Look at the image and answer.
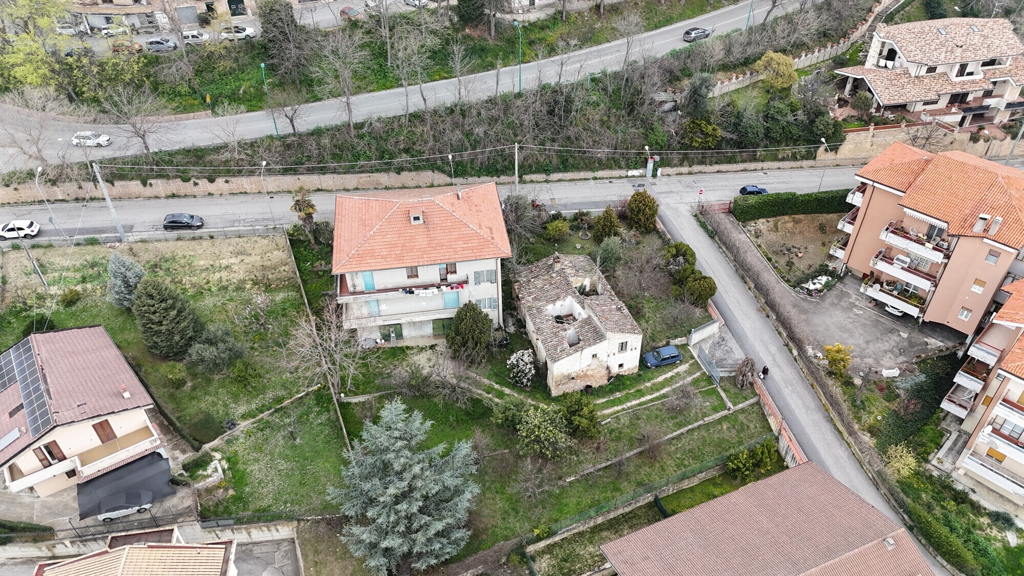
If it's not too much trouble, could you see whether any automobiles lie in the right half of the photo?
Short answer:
Yes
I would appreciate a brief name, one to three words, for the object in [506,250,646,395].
house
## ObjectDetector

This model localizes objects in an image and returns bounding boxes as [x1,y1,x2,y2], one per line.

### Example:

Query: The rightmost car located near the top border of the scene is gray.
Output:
[681,24,713,40]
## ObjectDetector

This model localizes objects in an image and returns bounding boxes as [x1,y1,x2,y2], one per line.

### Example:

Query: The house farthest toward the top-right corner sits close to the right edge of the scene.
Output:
[822,1,1024,127]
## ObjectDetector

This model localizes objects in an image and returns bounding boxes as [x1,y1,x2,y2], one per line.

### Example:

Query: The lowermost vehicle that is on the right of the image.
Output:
[642,340,685,367]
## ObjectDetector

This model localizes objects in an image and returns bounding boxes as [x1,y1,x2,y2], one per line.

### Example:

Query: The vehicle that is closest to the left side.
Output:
[0,216,41,239]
